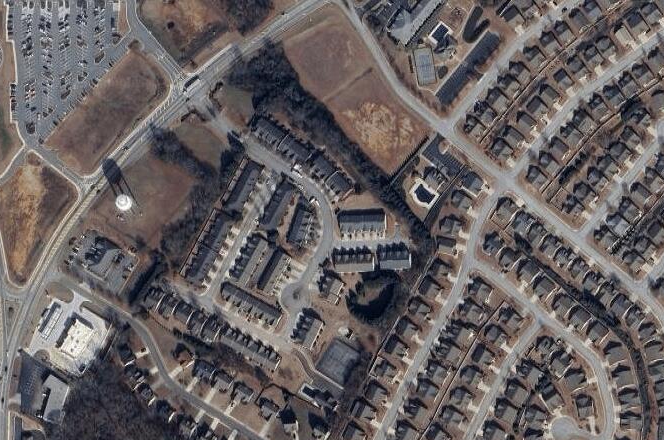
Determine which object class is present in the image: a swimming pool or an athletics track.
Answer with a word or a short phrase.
swimming pool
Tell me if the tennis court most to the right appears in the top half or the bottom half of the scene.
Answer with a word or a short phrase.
top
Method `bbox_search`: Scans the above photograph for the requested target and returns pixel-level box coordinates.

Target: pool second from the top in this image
[408,177,441,210]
